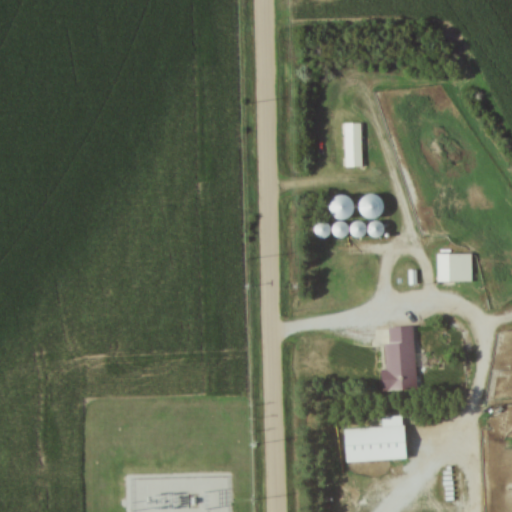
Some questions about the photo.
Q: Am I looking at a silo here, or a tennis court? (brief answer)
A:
silo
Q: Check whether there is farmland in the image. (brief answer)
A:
Yes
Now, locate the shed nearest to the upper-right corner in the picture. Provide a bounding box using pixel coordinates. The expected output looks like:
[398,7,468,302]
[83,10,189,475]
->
[343,122,363,167]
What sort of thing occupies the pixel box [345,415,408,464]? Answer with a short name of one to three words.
barn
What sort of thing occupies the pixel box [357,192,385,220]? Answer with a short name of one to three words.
silo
